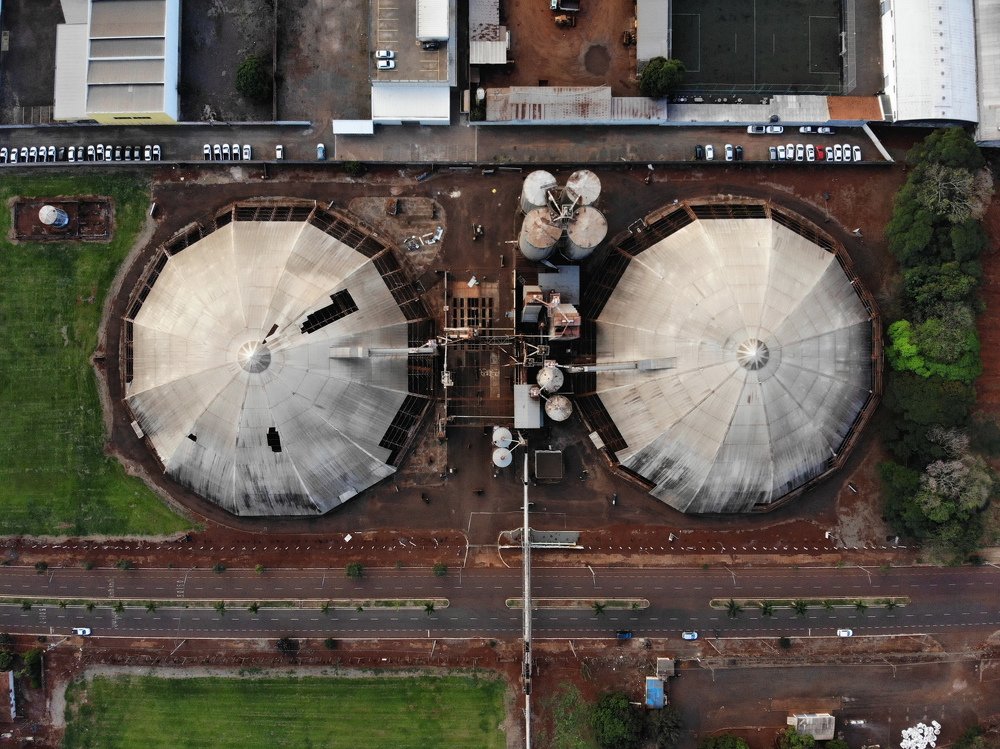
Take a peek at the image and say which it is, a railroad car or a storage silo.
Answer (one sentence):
Visible in the photo is a storage silo.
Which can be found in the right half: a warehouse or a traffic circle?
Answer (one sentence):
Looking in the right half, you will find a warehouse.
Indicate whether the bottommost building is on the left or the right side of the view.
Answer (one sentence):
You can find the bottommost building on the right side of the picture.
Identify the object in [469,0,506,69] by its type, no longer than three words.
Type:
shed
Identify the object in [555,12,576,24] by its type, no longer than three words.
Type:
vehicle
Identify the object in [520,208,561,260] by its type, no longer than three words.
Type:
silo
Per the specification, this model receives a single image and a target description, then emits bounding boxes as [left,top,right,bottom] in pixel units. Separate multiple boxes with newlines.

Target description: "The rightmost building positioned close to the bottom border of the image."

[783,710,835,739]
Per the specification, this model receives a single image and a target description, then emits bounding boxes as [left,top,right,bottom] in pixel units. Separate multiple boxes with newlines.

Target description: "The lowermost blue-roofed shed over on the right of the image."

[644,674,667,708]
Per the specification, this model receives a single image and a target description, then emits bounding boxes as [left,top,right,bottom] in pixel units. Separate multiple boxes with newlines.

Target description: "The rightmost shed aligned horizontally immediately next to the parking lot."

[486,85,611,120]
